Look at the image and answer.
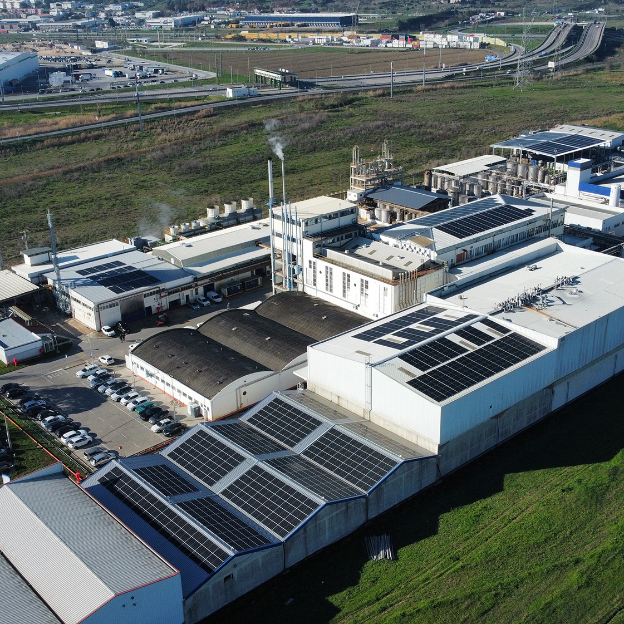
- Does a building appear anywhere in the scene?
Yes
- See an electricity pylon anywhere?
Yes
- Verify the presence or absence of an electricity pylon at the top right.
Yes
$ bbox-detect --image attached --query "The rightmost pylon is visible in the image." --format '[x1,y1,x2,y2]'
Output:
[551,25,571,72]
